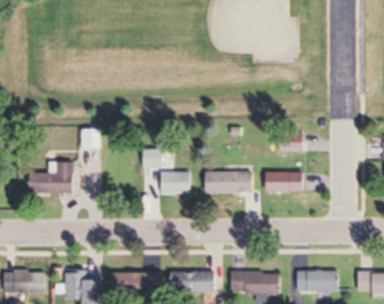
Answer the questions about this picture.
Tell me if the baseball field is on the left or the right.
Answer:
right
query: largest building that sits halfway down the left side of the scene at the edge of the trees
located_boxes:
[27,161,73,197]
